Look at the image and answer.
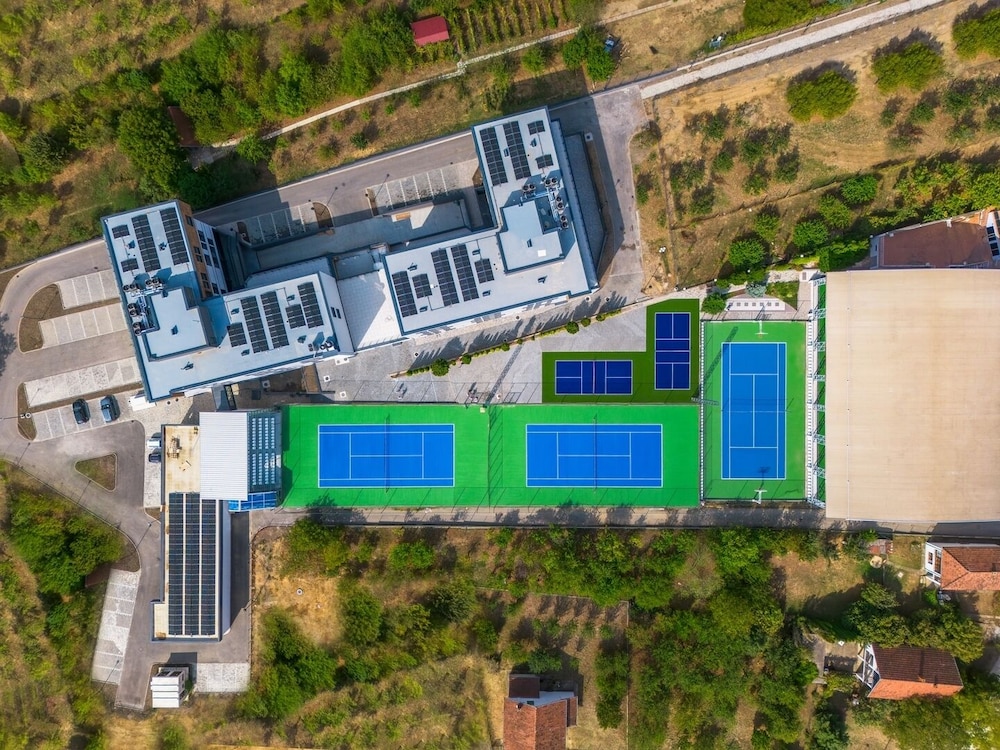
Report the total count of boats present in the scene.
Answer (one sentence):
The photo contains no boats.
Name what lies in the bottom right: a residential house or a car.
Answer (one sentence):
You can see a residential house in the bottom right.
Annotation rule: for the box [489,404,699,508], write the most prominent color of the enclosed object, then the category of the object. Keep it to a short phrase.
green tennis court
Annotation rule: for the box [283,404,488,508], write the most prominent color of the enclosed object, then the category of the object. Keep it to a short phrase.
green tennis court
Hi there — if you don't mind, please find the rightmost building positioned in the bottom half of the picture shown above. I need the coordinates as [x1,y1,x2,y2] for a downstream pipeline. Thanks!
[916,537,1000,591]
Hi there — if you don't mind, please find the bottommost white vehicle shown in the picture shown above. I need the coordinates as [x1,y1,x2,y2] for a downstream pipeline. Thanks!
[146,438,161,450]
